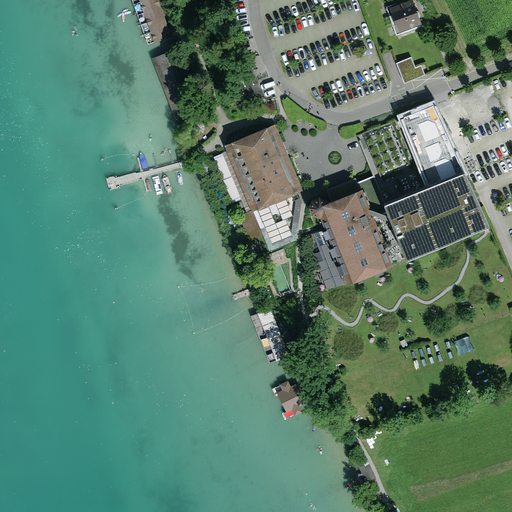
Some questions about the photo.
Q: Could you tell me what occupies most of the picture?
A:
water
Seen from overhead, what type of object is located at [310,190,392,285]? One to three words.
building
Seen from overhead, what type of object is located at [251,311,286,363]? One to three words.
house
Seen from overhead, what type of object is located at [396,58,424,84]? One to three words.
building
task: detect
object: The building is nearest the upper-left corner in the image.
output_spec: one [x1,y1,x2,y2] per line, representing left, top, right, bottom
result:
[132,0,166,44]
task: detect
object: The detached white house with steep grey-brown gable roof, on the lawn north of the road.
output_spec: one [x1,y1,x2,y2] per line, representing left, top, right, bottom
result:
[388,0,423,38]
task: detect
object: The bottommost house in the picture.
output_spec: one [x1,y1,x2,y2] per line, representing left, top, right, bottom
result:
[272,380,302,420]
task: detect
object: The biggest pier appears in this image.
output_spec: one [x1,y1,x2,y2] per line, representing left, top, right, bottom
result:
[106,150,182,192]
